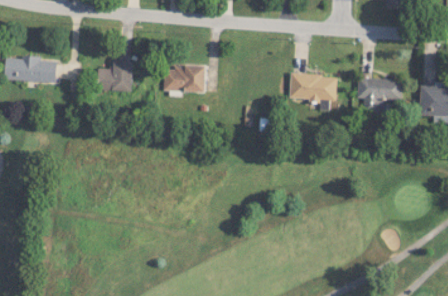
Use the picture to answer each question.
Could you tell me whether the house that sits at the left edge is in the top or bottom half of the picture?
top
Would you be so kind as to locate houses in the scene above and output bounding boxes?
[421,82,448,123]
[164,63,208,97]
[5,56,60,88]
[98,60,138,92]
[290,66,338,112]
[358,70,404,106]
